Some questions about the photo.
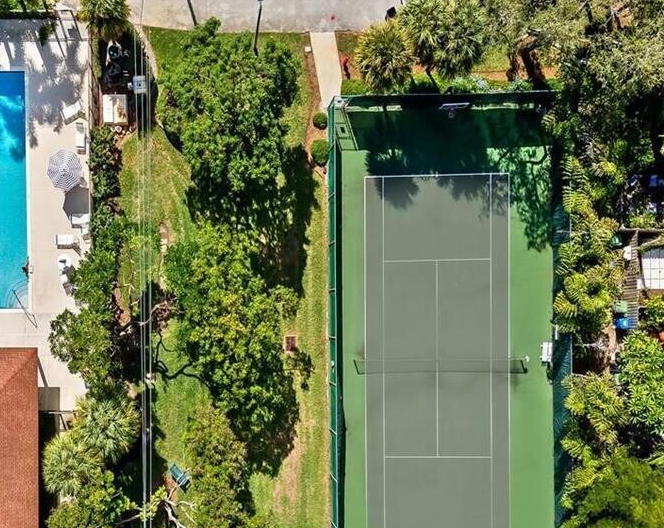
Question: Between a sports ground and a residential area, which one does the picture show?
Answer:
sports ground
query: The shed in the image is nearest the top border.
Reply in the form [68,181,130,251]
[103,93,128,129]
